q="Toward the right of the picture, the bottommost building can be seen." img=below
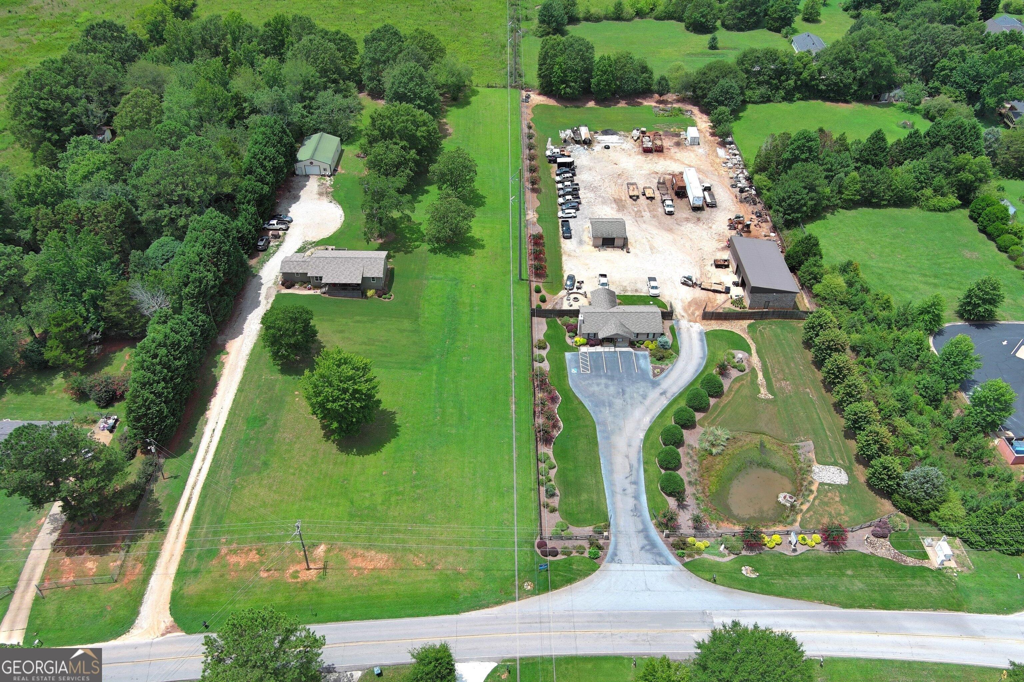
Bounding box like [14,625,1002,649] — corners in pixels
[577,285,663,347]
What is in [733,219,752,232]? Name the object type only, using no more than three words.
vehicle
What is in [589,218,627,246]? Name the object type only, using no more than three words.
shed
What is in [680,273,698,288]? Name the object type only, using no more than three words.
work vehicle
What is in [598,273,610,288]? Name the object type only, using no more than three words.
vehicle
